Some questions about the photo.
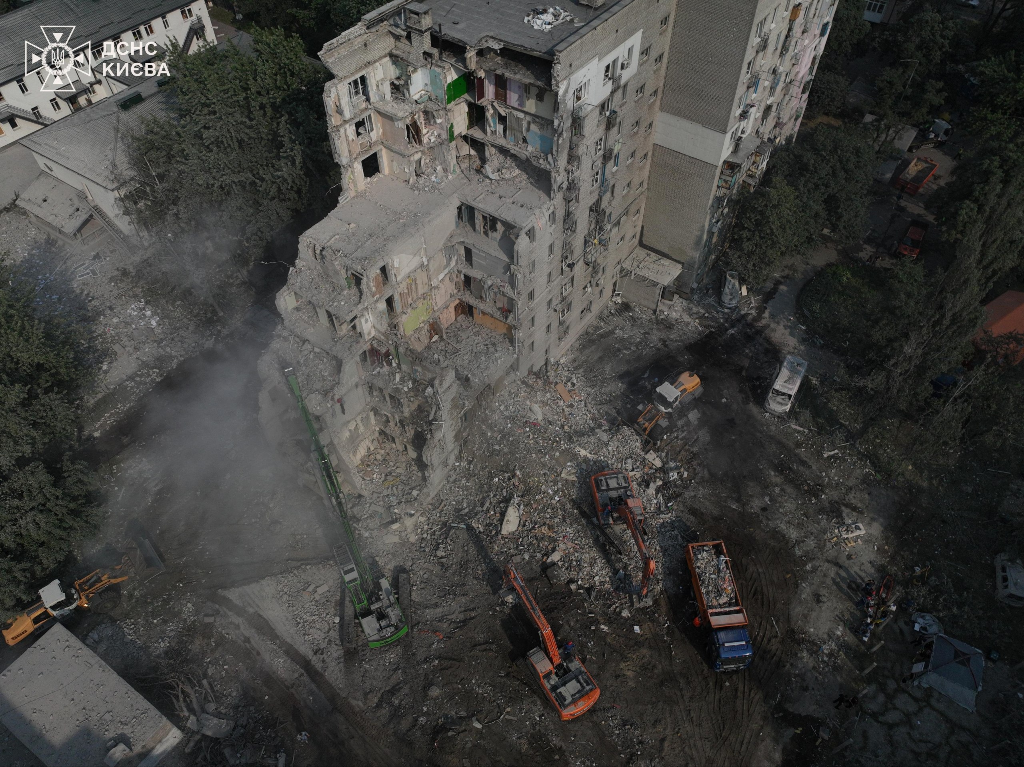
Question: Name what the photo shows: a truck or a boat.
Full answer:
The image shows a truck.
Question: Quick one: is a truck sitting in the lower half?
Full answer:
Yes, a truck appears in the lower half.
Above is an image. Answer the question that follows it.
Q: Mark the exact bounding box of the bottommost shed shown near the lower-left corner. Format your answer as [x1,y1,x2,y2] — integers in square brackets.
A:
[0,624,195,767]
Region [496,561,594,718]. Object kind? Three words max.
work vehicle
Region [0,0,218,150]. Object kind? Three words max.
building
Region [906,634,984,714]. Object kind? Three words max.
tent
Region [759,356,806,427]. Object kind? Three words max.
van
